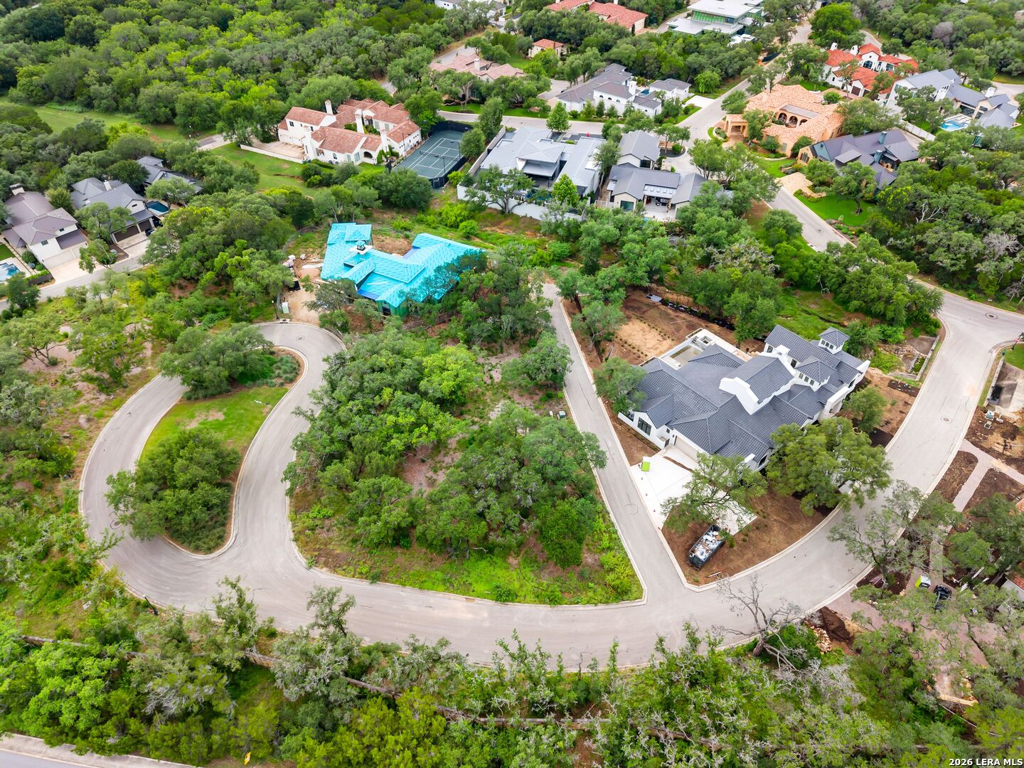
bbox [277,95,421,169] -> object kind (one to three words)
house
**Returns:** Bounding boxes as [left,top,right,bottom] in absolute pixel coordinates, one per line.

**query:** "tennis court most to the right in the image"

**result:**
[382,118,476,180]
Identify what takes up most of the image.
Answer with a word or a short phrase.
trees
